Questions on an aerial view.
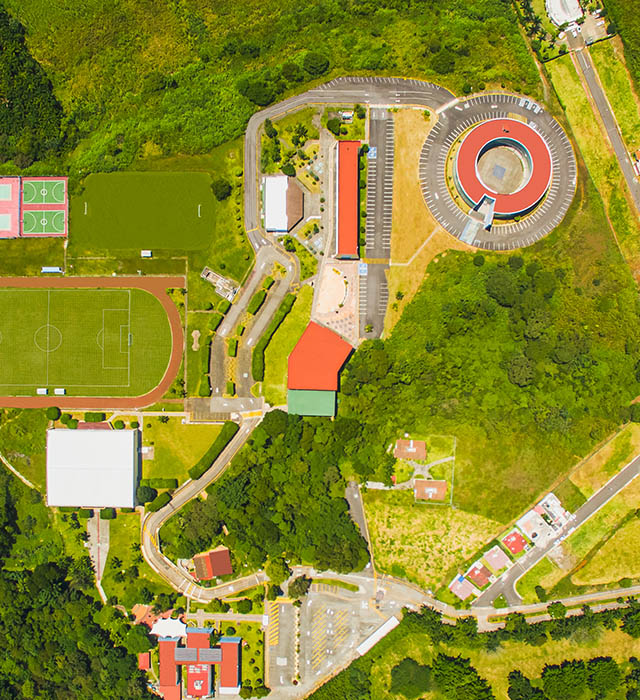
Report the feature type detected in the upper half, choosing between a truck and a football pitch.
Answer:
football pitch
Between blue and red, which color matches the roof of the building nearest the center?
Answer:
red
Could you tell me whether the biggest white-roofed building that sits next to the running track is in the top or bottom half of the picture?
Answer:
bottom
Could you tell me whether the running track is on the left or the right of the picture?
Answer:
left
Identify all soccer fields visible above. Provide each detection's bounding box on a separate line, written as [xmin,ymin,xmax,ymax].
[69,172,216,249]
[0,288,172,396]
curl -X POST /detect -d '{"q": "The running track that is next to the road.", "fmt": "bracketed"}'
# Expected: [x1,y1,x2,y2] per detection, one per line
[0,277,186,409]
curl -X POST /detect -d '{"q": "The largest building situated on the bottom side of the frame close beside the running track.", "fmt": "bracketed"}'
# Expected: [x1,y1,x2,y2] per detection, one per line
[46,428,137,509]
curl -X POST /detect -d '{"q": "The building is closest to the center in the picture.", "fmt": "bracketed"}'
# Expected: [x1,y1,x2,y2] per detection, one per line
[288,321,352,390]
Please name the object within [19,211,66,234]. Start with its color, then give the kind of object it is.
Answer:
green basketball court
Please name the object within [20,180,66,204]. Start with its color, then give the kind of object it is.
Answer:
green basketball court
